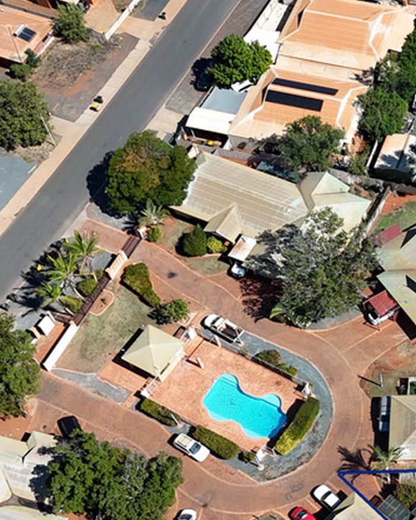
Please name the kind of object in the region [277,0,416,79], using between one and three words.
house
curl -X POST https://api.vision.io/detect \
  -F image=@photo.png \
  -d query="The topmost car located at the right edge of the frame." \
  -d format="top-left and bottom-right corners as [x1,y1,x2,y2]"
[359,305,397,327]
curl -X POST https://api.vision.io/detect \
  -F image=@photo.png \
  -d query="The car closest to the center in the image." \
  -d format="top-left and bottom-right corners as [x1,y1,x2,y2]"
[226,256,249,284]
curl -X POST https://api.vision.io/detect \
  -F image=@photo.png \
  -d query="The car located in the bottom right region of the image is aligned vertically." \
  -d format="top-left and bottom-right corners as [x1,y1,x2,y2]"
[374,394,391,436]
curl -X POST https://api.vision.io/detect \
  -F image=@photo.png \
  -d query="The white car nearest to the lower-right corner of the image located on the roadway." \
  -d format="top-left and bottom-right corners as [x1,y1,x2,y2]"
[308,482,344,515]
